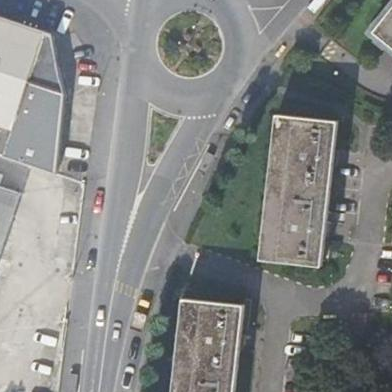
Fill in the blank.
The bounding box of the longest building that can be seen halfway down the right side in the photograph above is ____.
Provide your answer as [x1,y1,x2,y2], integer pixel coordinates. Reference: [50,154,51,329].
[258,111,341,266]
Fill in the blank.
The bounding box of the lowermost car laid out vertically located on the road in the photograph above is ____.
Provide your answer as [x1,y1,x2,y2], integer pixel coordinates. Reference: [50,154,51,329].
[123,365,135,388]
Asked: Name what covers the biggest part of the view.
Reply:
paved ground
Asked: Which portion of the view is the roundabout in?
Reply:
top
